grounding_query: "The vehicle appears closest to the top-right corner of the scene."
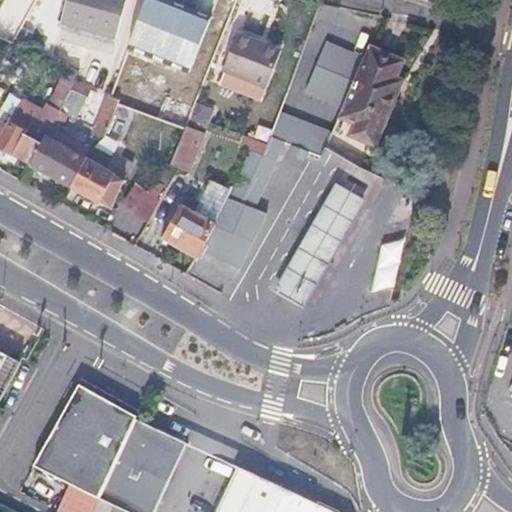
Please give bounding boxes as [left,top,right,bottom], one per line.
[354,30,368,52]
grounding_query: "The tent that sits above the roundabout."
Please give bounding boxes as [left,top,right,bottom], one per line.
[369,238,406,293]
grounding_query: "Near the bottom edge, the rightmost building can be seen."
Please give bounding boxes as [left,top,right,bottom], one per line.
[212,463,334,512]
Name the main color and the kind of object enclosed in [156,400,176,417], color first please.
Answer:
white car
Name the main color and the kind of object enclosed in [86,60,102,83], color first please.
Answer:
white car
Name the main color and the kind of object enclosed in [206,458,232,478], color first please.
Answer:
white vehicle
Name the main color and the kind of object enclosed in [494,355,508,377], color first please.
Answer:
white vehicle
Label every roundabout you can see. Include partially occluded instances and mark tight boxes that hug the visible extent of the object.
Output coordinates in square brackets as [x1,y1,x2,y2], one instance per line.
[326,315,490,512]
